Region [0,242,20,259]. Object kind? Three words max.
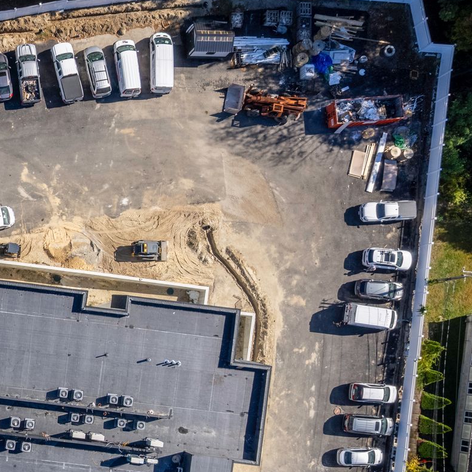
work vehicle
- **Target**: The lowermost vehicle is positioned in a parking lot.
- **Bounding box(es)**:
[333,446,382,471]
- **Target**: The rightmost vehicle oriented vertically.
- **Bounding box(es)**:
[147,34,175,97]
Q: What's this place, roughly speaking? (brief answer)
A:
parking lot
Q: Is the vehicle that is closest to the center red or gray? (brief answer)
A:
gray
